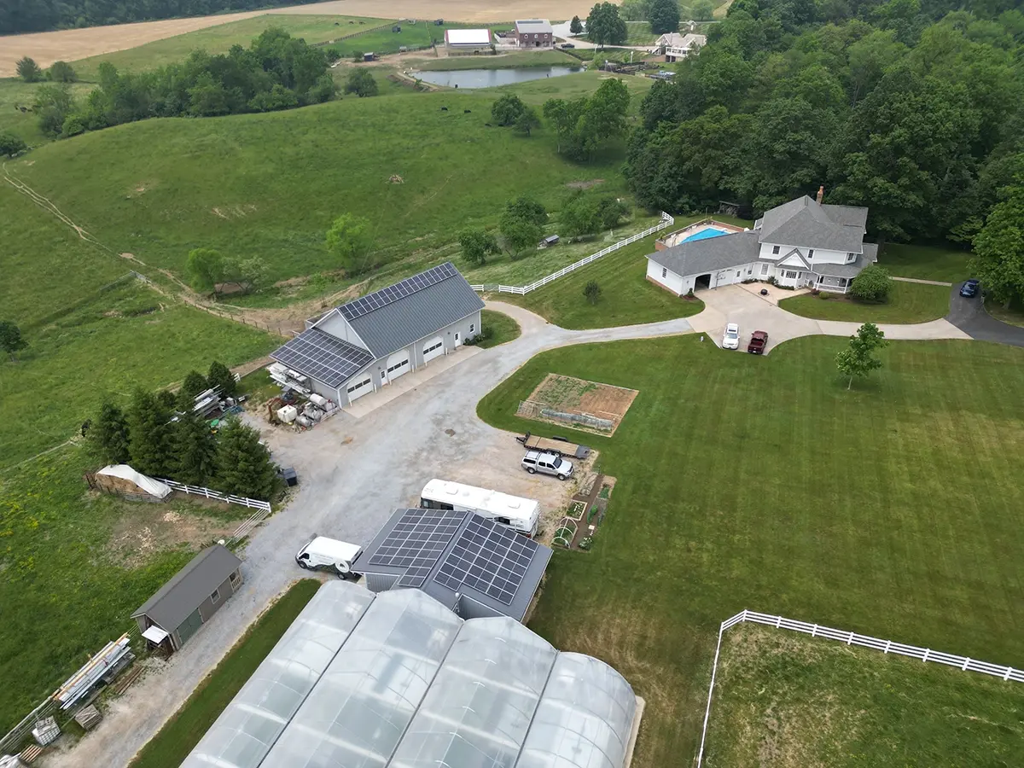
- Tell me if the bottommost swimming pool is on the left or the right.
right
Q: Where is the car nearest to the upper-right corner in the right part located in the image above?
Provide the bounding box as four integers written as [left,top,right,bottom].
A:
[957,280,976,297]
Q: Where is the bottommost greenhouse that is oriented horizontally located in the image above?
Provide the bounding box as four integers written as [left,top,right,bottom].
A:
[178,576,645,768]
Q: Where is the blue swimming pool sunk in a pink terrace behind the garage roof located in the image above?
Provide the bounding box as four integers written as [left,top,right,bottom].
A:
[657,215,750,251]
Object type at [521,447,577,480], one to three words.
truck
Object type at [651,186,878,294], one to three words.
house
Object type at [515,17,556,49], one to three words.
barn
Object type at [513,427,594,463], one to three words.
trailer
